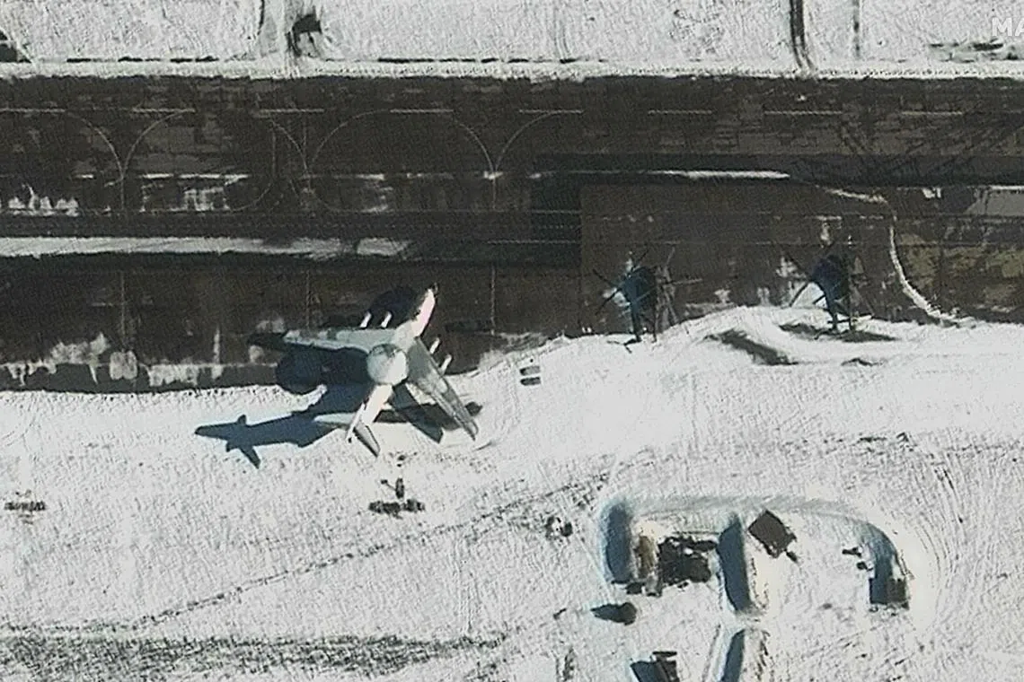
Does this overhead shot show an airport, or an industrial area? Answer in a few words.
airport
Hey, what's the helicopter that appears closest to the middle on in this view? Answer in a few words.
apron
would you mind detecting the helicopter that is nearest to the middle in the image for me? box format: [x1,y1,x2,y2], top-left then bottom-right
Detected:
[626,242,707,344]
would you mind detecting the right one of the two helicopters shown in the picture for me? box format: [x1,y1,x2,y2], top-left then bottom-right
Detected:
[815,230,895,332]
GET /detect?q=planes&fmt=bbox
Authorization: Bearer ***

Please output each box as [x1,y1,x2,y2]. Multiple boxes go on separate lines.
[281,281,480,462]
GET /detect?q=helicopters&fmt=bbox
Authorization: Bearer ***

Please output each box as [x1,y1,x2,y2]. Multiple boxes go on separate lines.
[626,242,707,344]
[815,230,895,332]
